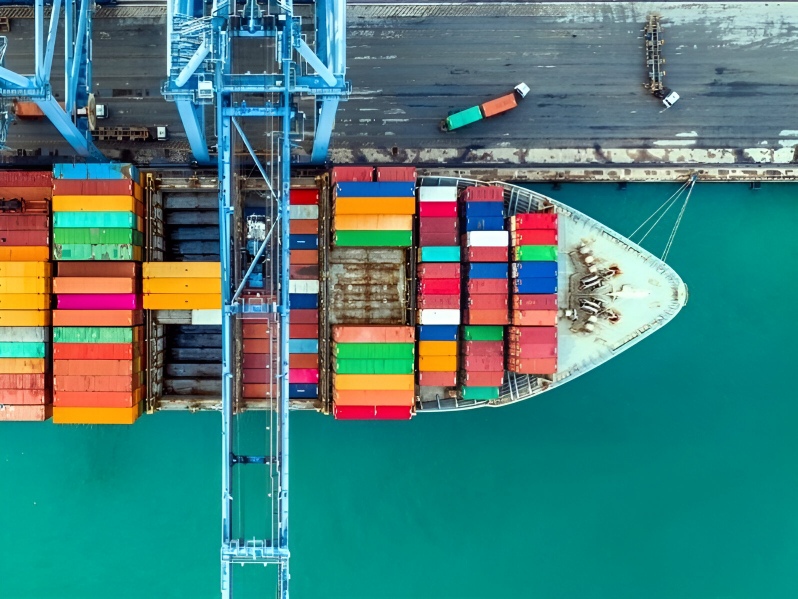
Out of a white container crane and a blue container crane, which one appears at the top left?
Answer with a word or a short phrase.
blue container crane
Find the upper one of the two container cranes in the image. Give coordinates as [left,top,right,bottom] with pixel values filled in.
[0,0,109,166]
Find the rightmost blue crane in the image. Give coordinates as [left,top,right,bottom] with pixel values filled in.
[160,0,355,599]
